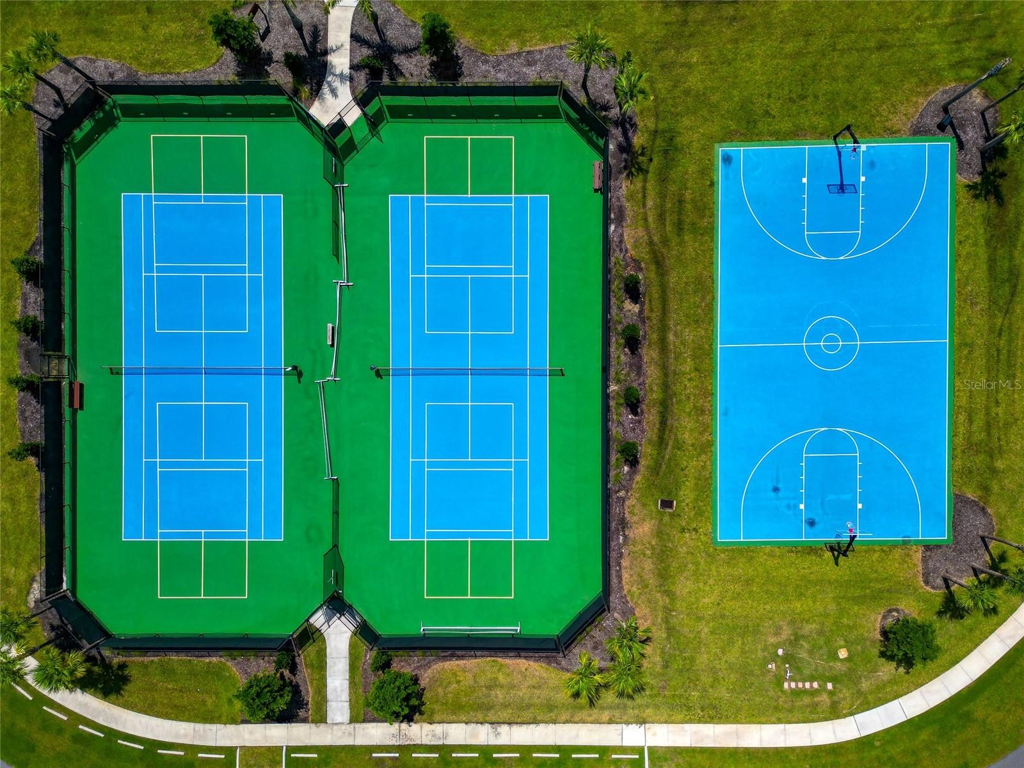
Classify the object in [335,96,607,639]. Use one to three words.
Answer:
tennis court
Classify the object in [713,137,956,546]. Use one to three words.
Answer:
basketball court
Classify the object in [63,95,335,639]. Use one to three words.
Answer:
tennis court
